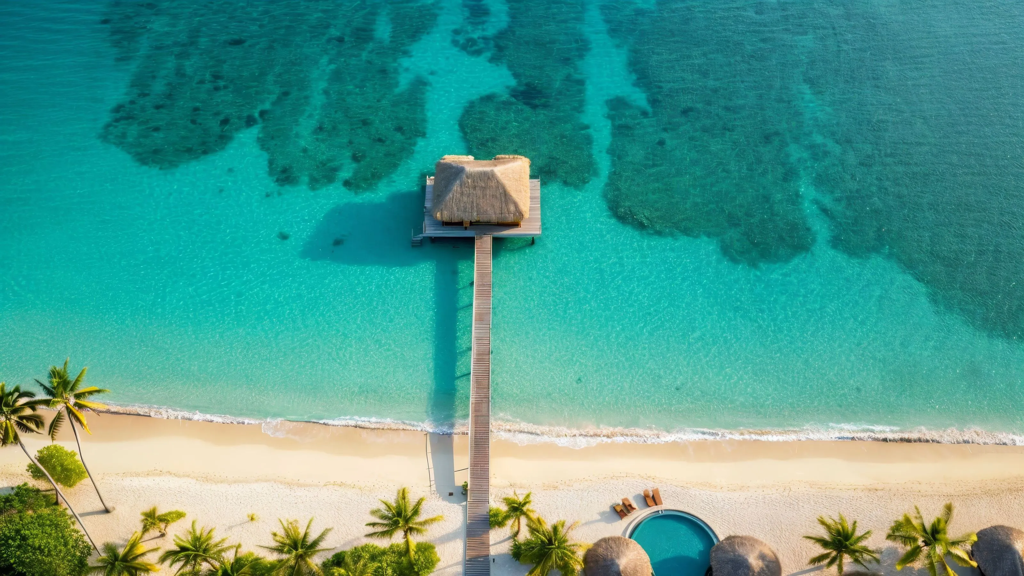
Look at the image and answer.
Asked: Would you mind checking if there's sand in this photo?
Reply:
Yes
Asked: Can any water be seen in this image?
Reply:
Yes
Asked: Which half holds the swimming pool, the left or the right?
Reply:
right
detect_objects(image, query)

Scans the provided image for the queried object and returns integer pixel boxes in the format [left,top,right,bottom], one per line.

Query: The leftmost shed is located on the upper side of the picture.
[423,153,542,250]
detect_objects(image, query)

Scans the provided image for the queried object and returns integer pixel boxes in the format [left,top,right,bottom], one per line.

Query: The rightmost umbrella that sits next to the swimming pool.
[707,536,784,576]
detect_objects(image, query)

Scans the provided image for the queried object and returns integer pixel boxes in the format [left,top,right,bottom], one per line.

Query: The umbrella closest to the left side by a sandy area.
[581,538,654,576]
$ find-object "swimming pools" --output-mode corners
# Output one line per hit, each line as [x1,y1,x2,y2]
[626,508,717,576]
